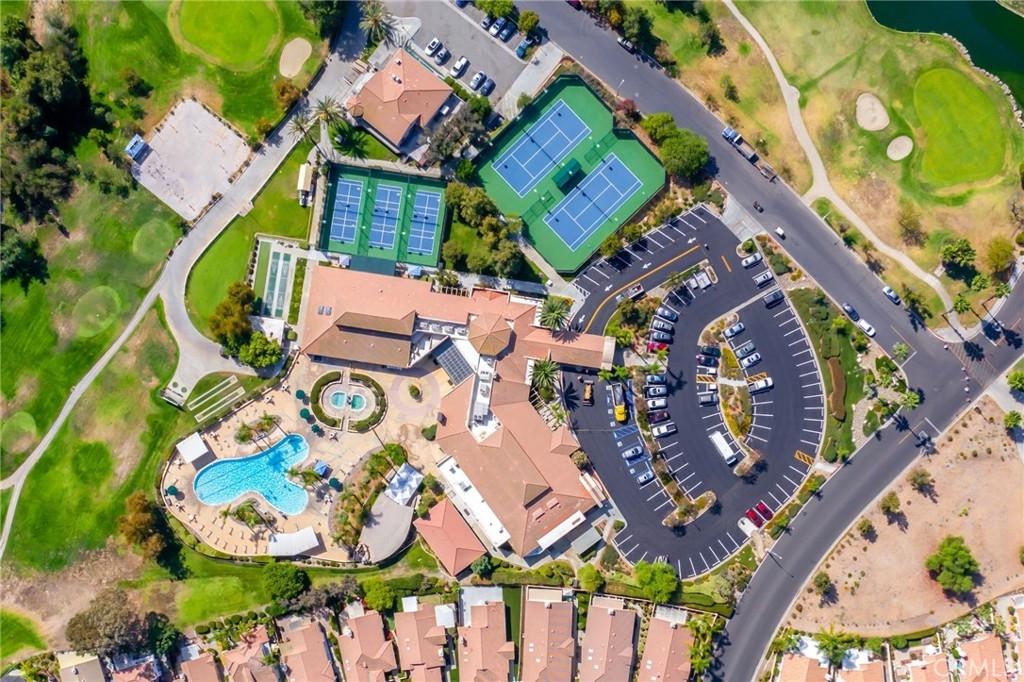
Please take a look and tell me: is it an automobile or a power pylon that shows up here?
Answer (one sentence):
It is an automobile that can be seen here.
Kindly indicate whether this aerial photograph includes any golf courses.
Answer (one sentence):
Yes, the frame does contain a golf course.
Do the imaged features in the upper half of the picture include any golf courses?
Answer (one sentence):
Yes, I can see a golf course in the upper half of the picture.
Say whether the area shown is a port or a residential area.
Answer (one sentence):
It's a residential area.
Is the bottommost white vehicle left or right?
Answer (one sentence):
It is on the right.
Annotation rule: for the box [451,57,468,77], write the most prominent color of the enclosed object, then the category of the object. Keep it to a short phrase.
white car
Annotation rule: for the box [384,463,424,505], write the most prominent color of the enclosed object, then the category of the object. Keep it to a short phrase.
white tent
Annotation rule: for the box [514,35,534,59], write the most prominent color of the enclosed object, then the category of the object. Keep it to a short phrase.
blue vehicle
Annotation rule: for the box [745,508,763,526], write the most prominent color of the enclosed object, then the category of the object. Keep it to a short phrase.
red car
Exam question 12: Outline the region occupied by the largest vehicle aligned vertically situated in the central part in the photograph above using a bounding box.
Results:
[612,382,625,421]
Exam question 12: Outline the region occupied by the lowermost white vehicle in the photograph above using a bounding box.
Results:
[737,516,758,537]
